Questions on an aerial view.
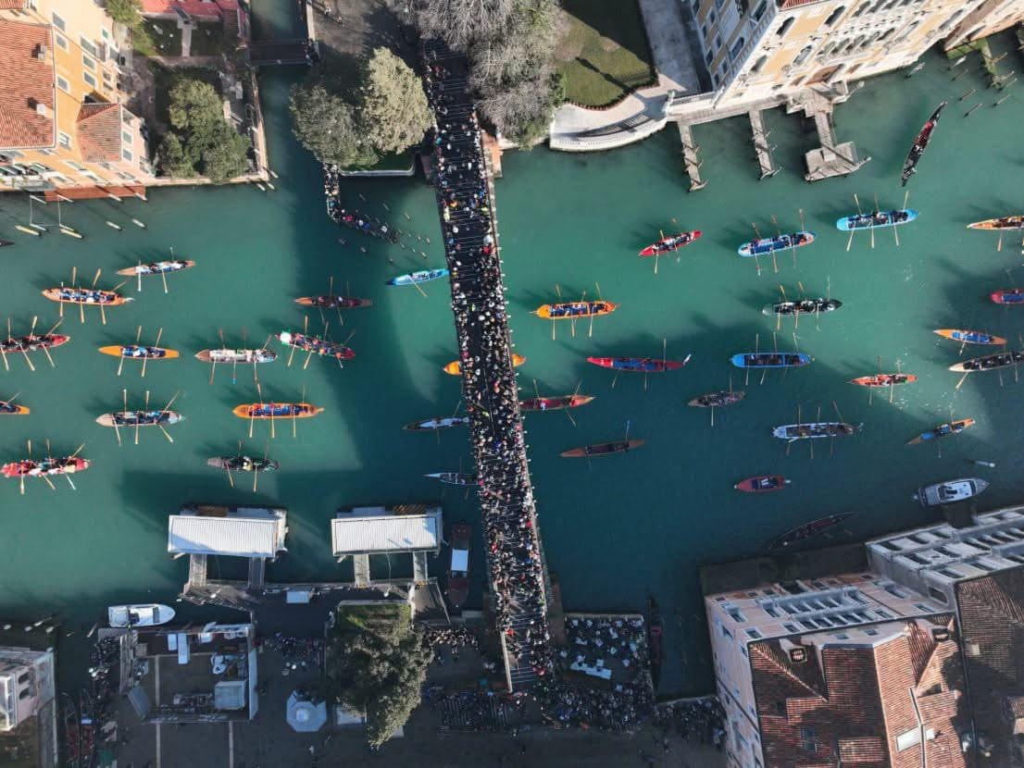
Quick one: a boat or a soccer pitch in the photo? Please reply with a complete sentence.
It is a boat that can be seen here.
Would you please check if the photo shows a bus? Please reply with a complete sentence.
No, I can't see a single bus in this photo.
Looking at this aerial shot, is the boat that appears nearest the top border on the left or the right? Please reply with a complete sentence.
It is on the right.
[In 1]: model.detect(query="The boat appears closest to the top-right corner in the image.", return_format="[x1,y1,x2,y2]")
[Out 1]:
[902,93,958,186]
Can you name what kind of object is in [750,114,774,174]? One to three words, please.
pier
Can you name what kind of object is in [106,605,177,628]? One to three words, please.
boat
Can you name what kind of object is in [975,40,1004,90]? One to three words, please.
pier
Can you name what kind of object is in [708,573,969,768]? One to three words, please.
building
